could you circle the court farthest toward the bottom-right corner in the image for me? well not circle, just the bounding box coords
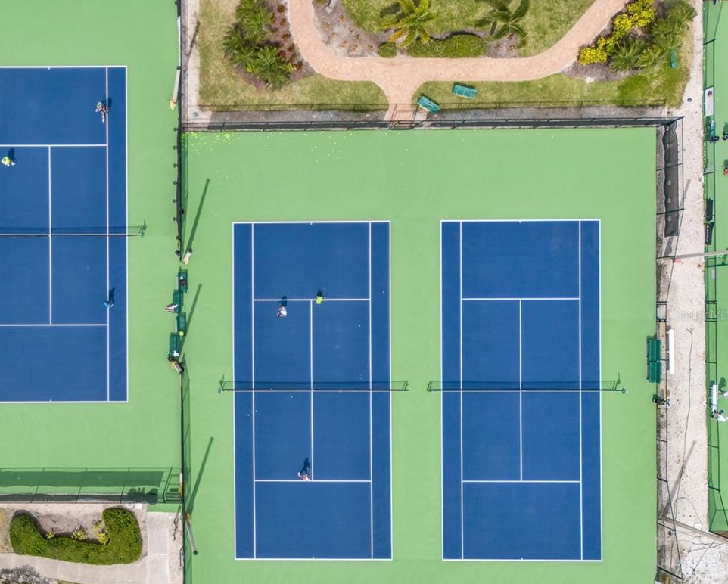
[441,220,603,560]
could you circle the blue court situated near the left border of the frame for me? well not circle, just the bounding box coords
[0,65,128,403]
